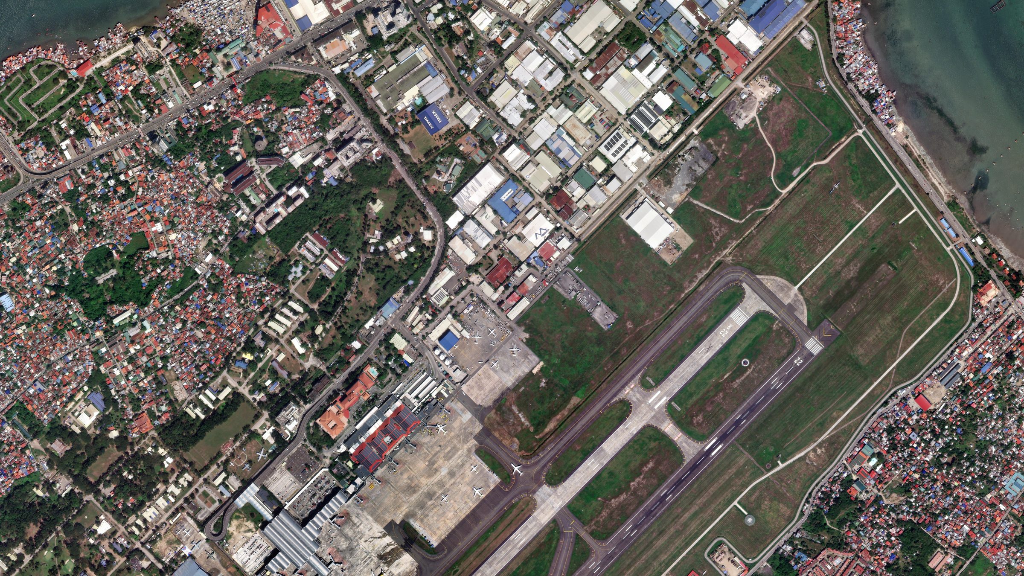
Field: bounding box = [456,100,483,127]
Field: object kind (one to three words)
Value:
building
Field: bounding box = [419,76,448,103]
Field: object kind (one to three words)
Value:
building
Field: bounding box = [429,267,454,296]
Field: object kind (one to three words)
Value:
shed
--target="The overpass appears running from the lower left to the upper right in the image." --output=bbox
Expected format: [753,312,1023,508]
[205,445,295,541]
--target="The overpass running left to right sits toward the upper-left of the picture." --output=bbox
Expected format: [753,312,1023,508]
[0,130,116,176]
